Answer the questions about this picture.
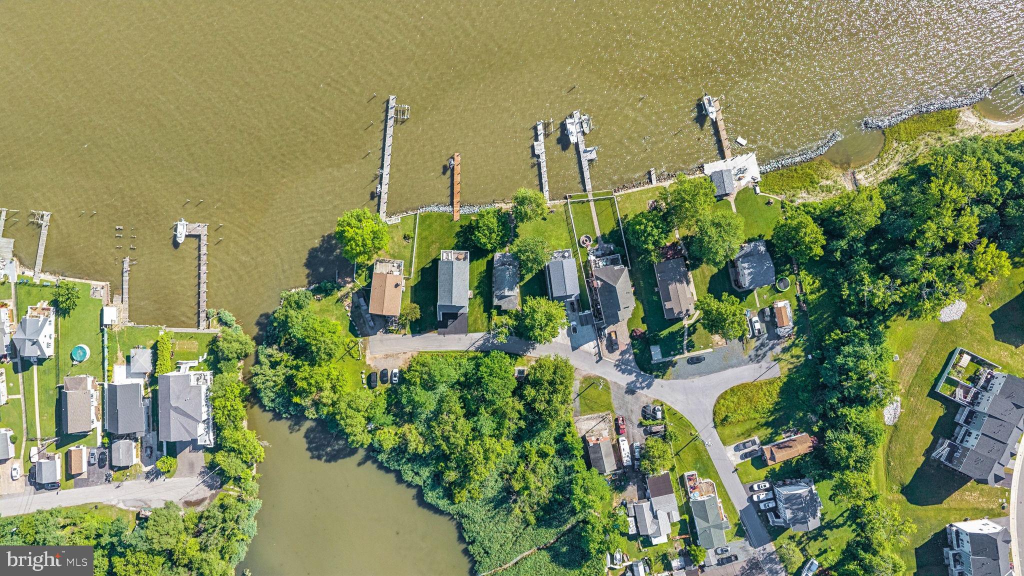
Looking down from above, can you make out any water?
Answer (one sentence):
Yes, some water is visible.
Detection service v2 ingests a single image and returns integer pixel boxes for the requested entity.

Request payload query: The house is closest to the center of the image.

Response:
[493,254,518,309]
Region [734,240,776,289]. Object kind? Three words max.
house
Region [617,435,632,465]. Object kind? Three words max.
camper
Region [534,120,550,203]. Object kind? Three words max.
pier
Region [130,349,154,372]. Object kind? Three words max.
gazebo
